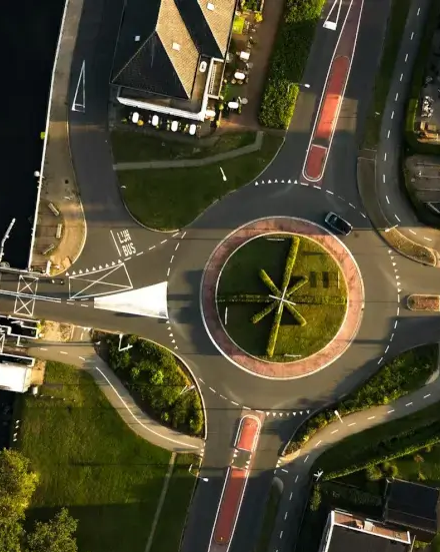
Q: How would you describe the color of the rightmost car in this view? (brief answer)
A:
black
